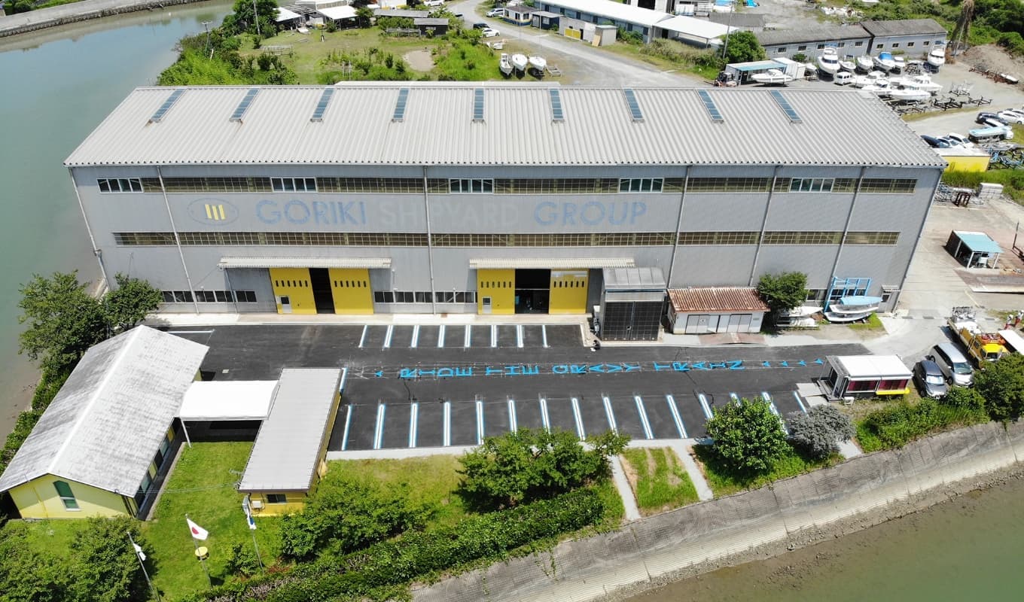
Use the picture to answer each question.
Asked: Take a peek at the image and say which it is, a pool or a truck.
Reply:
truck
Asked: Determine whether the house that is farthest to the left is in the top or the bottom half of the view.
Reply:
bottom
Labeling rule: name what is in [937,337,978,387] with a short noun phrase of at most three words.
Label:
vehicle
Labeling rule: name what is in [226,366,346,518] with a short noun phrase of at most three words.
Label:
building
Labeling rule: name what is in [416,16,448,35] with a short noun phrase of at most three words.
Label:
shed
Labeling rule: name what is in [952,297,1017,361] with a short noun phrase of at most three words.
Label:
truck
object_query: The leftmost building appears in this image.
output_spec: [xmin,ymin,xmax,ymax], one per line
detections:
[0,328,219,525]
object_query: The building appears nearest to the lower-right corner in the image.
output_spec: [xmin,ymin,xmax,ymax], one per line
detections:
[812,354,916,404]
